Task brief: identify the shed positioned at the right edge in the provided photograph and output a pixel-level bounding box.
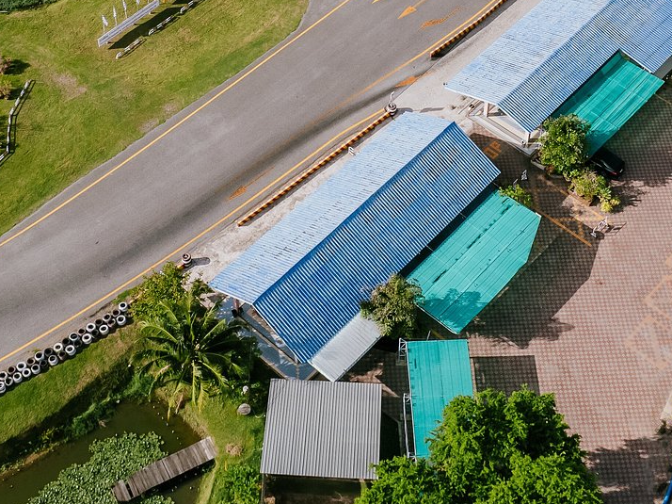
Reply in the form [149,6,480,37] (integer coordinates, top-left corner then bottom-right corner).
[445,0,672,163]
